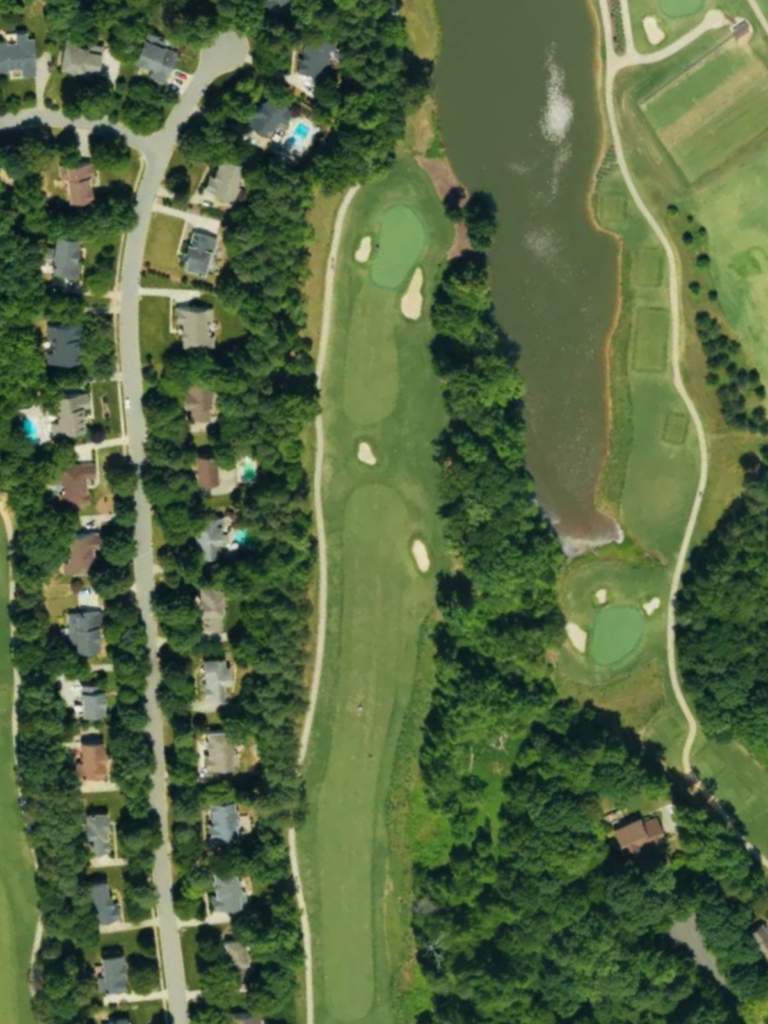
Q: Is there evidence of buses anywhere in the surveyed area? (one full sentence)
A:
No, there isn't any bus down there.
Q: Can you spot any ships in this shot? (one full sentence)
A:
No, the photo shows no ship.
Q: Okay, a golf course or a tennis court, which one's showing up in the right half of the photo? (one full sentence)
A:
The feature located in the right half of the photo is a golf course.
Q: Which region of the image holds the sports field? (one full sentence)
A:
The sports field is located in the top right region of the scene.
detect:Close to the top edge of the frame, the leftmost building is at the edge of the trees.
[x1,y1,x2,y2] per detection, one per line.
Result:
[0,36,35,78]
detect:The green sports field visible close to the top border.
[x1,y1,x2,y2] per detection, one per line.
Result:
[639,40,768,183]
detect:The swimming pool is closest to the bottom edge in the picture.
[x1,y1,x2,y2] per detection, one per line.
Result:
[233,527,252,547]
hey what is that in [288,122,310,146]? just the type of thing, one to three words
swimming pool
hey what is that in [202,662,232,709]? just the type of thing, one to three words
house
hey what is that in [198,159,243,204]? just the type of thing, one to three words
house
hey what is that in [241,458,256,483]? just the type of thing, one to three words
swimming pool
